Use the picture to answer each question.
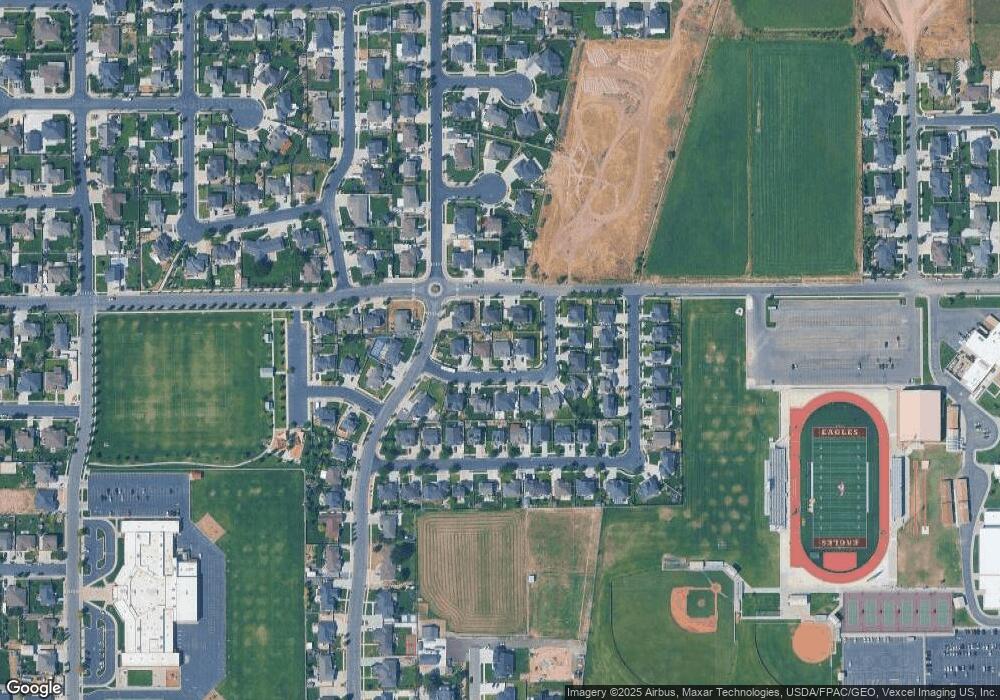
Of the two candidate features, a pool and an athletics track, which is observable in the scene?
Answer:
athletics track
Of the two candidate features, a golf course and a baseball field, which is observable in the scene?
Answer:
baseball field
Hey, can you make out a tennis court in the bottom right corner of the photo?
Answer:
Yes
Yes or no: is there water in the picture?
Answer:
No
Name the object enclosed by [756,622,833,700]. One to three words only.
baseball field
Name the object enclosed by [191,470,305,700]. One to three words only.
sports field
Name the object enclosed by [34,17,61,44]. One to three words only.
house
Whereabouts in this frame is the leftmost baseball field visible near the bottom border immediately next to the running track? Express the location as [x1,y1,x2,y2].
[611,571,734,700]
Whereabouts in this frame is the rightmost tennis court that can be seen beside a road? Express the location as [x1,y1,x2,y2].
[844,593,952,632]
